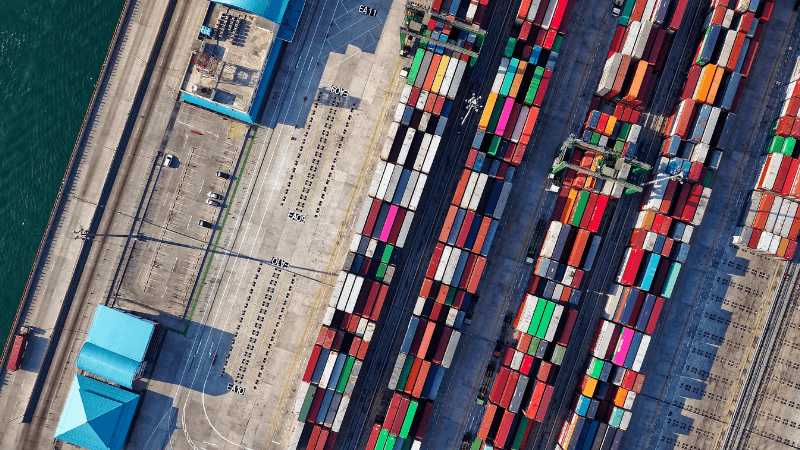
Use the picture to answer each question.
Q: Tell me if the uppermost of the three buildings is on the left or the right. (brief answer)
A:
left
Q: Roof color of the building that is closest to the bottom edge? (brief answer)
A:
blue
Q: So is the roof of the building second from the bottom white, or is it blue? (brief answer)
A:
blue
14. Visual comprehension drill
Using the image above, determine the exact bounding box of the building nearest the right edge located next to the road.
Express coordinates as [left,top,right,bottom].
[180,0,307,123]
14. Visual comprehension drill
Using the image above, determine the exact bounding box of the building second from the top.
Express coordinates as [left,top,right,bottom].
[74,302,168,387]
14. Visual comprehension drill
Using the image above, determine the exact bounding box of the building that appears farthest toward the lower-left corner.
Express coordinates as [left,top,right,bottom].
[55,371,142,450]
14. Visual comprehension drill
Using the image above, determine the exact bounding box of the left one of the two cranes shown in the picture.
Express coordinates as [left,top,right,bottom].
[398,2,491,77]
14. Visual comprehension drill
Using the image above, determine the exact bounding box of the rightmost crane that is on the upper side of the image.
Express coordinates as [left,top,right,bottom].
[542,135,655,197]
